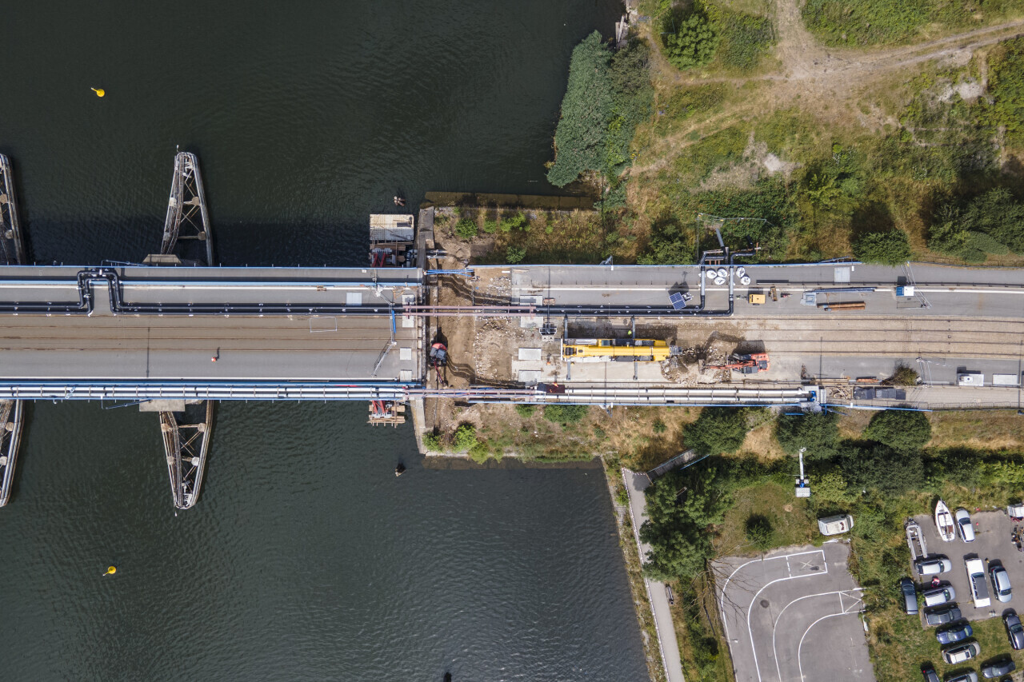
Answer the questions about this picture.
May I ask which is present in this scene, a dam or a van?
van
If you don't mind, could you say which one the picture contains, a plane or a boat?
boat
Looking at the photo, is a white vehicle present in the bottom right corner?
Yes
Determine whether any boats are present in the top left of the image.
No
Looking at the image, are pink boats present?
No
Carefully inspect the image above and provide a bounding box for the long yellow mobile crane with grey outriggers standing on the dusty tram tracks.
[561,316,682,381]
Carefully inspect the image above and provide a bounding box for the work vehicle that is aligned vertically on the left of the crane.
[426,337,448,384]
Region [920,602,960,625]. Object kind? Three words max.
car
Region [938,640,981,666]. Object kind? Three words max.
car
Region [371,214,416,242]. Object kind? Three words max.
pier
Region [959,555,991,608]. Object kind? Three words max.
van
